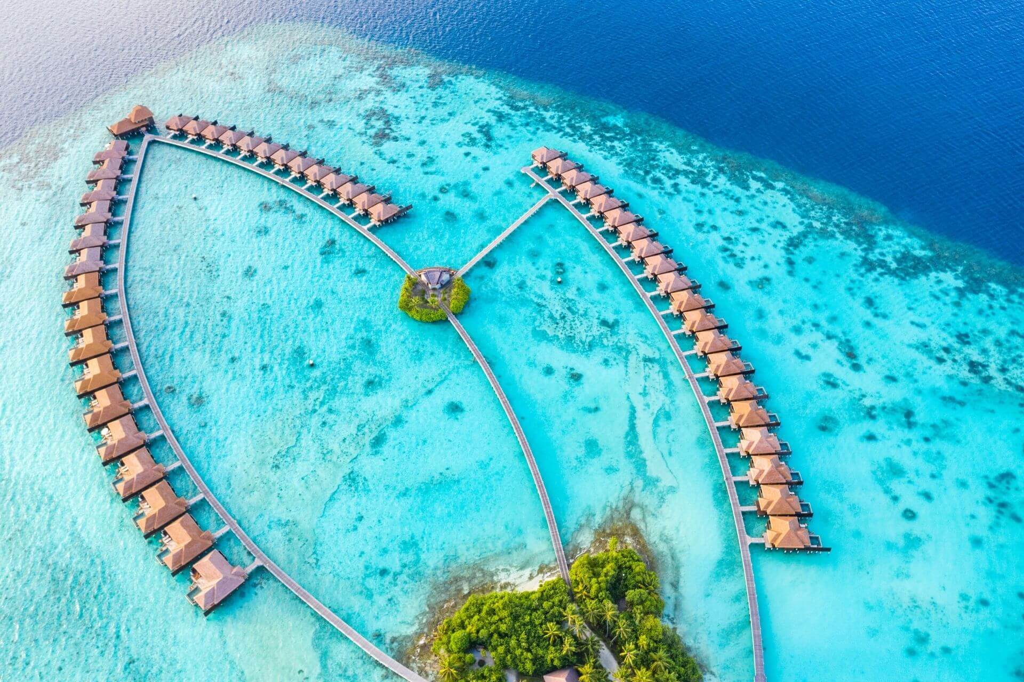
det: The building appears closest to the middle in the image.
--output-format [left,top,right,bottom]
[415,265,456,291]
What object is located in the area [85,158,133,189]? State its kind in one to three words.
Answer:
house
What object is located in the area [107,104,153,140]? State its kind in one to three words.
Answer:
building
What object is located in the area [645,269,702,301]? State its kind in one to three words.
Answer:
house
